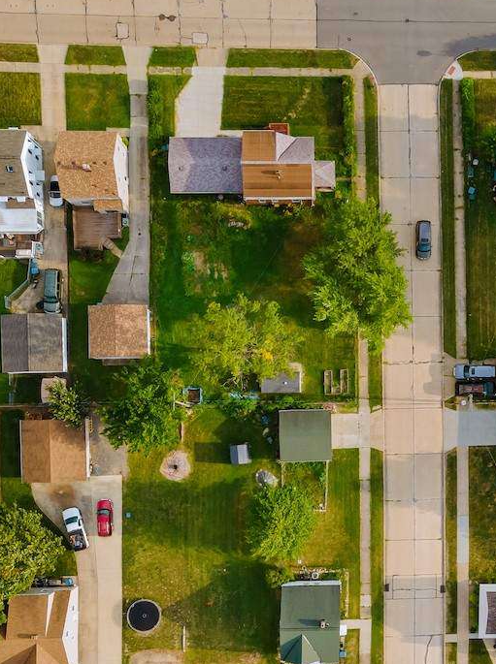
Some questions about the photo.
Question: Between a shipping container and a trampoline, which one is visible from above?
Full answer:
Looking from above, you can make out a trampoline.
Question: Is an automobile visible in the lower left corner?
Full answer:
Yes, an automobile is visible in the lower left corner.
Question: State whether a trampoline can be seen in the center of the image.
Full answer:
No, I see no trampoline in the center of the image.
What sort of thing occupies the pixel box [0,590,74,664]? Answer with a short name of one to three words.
house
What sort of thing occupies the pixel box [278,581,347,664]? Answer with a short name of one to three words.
house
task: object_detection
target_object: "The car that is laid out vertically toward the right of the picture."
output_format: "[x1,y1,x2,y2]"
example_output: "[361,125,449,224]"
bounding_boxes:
[415,221,432,260]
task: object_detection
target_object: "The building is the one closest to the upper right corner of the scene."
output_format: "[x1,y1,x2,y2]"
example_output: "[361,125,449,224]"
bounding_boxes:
[170,123,336,201]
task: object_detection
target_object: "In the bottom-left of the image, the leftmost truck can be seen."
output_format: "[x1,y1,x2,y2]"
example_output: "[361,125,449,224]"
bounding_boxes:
[60,506,89,551]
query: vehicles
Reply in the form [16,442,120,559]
[94,499,113,538]
[453,363,495,381]
[41,272,61,310]
[456,380,496,398]
[60,506,89,551]
[47,175,65,210]
[415,221,432,260]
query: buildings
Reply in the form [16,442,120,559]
[20,420,90,483]
[229,443,251,464]
[170,123,336,201]
[261,365,300,393]
[88,304,149,359]
[0,313,67,374]
[0,130,50,234]
[0,590,74,664]
[279,409,332,462]
[56,131,127,215]
[278,581,347,664]
[477,581,496,638]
